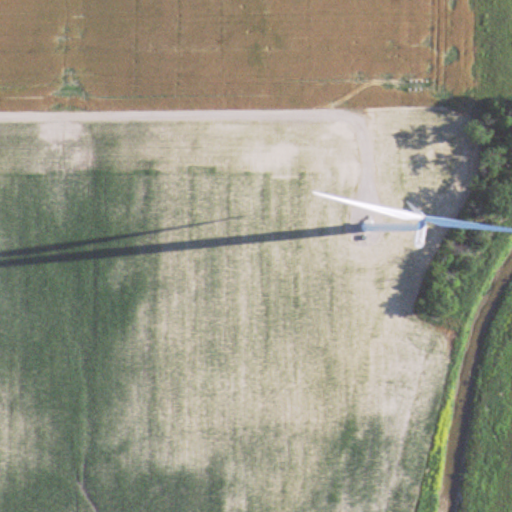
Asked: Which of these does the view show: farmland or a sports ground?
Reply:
farmland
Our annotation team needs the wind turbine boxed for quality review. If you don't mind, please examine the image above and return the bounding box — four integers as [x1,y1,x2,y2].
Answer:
[314,191,512,248]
